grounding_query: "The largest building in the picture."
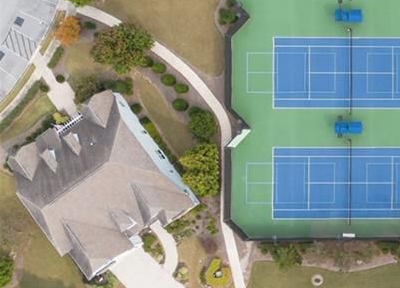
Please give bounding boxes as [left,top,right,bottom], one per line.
[6,92,203,280]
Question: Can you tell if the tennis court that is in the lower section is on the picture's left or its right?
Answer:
right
